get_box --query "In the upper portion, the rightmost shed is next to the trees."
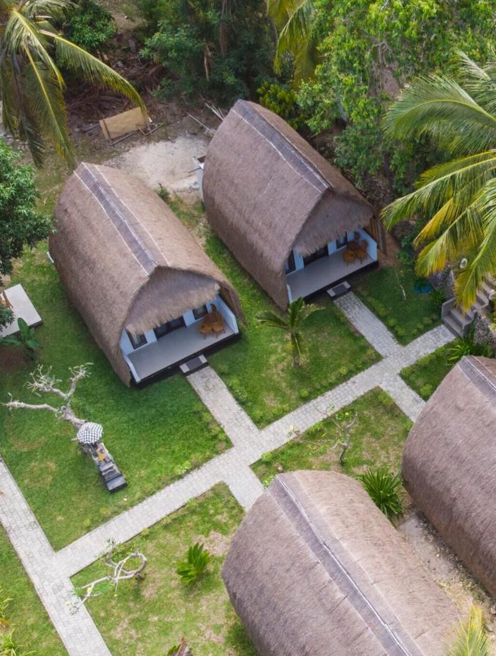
[201,103,391,302]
